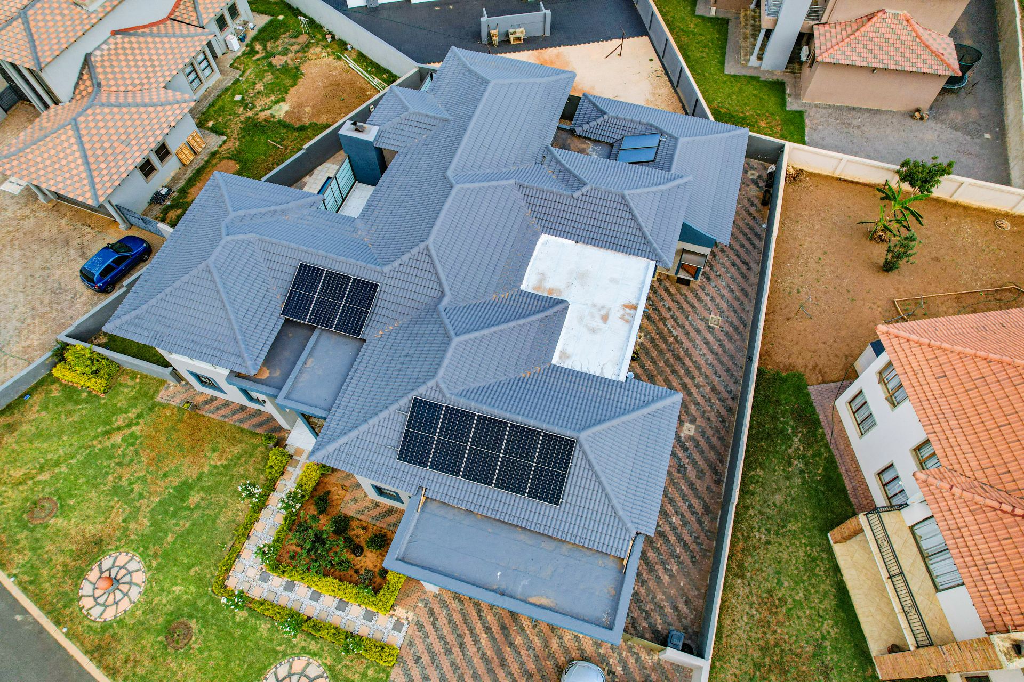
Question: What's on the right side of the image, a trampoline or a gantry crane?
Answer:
trampoline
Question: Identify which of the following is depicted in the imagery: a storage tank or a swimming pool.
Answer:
swimming pool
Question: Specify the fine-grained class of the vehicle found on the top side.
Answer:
automobile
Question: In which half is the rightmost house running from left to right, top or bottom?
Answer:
top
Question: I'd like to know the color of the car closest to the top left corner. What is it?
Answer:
blue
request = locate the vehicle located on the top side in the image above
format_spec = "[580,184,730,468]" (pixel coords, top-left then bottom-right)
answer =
[73,235,151,297]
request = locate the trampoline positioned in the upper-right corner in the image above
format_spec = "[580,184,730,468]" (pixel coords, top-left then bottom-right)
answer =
[938,36,990,99]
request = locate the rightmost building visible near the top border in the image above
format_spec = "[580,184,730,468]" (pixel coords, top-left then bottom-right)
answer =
[703,0,968,110]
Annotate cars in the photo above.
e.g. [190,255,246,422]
[73,235,151,297]
[559,663,608,682]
